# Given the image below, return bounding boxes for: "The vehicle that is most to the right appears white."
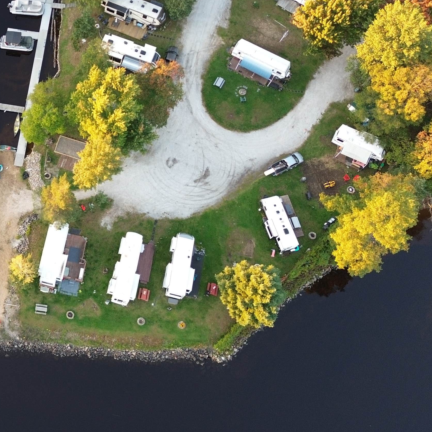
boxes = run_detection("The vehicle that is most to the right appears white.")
[331,125,382,173]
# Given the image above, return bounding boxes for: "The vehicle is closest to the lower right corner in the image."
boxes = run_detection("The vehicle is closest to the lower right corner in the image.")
[257,198,298,259]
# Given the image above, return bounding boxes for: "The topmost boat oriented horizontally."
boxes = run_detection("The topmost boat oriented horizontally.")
[5,0,44,16]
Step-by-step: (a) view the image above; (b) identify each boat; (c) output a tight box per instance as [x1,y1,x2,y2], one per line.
[0,145,17,150]
[5,0,44,16]
[0,30,34,51]
[13,113,20,137]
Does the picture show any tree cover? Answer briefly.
Yes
